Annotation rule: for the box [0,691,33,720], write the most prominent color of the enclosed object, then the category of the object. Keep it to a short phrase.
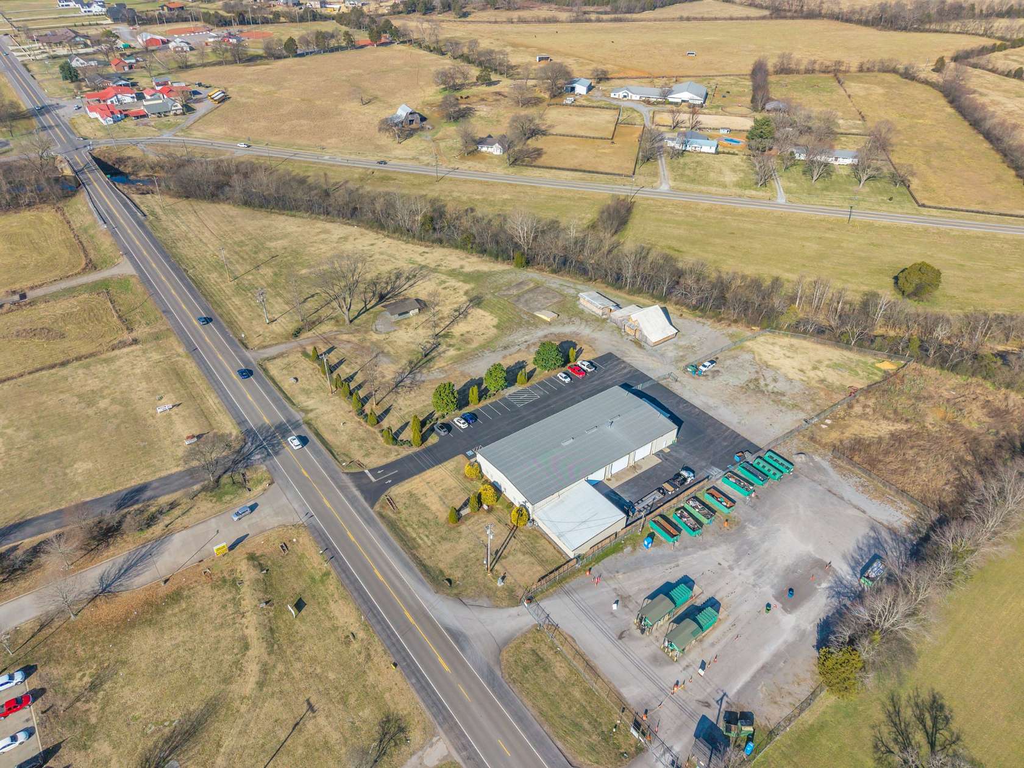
red truck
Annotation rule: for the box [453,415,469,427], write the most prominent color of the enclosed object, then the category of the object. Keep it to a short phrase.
white vehicle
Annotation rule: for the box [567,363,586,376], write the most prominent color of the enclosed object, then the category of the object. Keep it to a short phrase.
red vehicle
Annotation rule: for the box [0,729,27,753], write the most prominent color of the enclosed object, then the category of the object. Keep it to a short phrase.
white car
